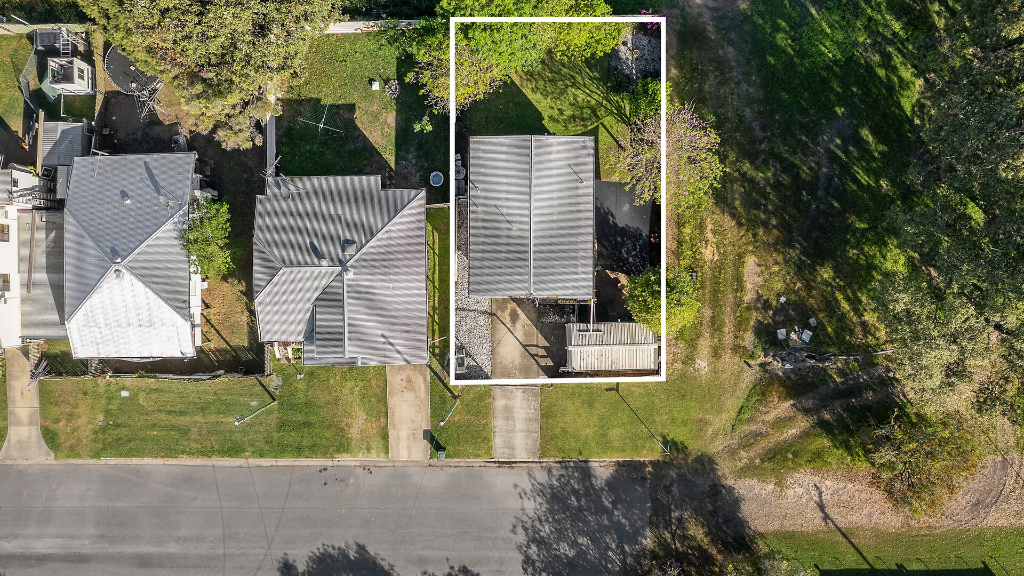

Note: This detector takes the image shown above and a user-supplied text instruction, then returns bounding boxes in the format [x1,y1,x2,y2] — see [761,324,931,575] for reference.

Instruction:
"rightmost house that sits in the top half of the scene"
[466,134,597,307]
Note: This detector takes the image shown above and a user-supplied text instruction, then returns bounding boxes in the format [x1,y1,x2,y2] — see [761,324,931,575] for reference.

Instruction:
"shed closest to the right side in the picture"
[565,321,660,373]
